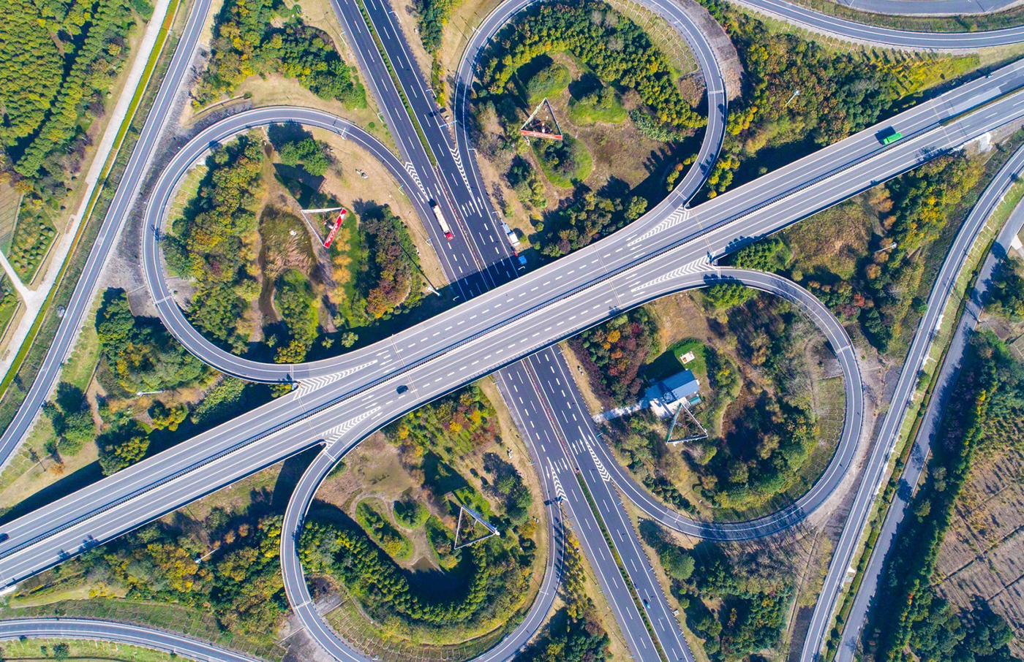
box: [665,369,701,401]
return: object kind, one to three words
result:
house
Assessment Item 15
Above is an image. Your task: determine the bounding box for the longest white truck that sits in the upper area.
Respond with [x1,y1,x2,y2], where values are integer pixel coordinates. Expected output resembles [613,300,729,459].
[432,205,453,239]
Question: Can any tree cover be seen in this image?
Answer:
Yes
